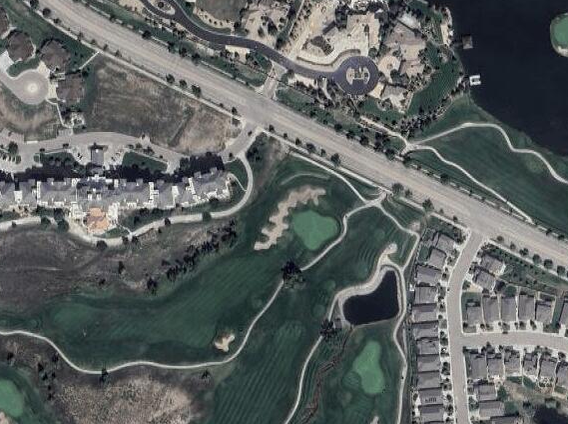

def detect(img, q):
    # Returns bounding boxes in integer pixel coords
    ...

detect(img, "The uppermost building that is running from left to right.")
[245,0,295,24]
